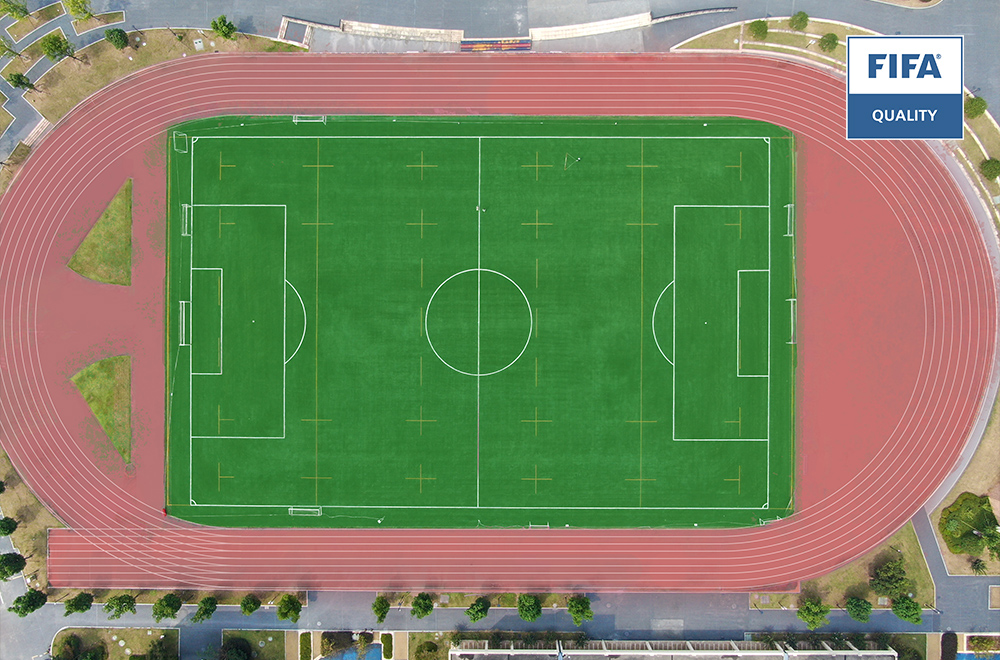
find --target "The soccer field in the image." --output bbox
[165,115,795,528]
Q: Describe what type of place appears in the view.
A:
sports ground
